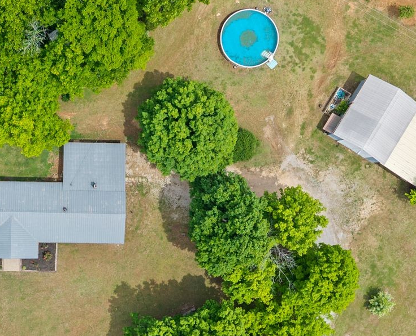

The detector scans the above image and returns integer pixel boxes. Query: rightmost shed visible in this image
[315,74,416,185]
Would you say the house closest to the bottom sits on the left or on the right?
left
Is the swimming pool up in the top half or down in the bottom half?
top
